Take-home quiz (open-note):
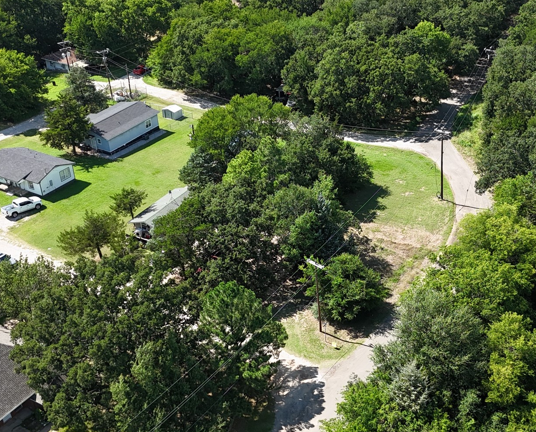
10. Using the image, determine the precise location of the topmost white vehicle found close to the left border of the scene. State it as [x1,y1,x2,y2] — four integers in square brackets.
[1,197,44,217]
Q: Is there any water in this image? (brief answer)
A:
No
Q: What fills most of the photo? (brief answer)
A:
trees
